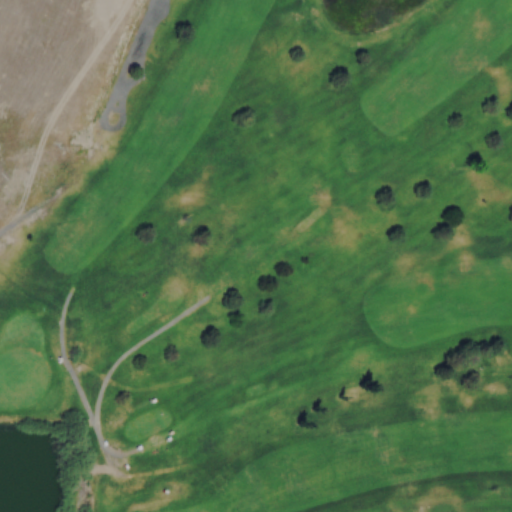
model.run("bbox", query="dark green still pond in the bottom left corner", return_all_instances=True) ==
[0,428,62,512]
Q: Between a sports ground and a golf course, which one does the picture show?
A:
golf course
